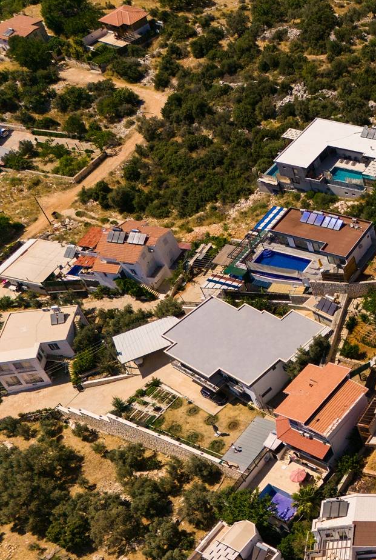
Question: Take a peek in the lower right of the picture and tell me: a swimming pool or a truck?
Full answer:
Looking in the lower right of the picture, you will find a swimming pool.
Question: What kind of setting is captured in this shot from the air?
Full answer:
It's a residential area.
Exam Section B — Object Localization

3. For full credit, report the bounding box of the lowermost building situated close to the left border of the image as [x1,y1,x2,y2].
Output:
[0,304,93,393]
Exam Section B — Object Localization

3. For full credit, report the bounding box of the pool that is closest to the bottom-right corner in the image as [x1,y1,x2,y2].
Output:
[261,485,292,523]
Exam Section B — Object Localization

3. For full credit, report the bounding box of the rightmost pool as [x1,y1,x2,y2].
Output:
[329,167,366,186]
